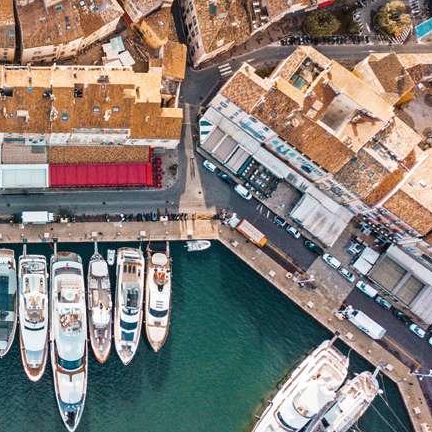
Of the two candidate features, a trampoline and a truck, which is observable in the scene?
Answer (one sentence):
There is a truck in the scene.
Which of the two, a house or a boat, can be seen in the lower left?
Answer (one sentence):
The feature located in the lower left is a boat.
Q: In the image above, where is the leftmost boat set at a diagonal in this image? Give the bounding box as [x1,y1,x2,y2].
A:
[251,331,355,432]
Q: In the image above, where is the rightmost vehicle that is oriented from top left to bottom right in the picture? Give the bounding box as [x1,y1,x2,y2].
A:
[408,321,429,340]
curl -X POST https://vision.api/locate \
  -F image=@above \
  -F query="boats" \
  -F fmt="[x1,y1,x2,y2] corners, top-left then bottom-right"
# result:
[19,238,50,386]
[0,246,18,361]
[313,365,399,432]
[109,248,116,267]
[48,239,90,432]
[112,238,145,367]
[86,239,114,362]
[144,240,174,353]
[251,331,355,432]
[184,239,212,251]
